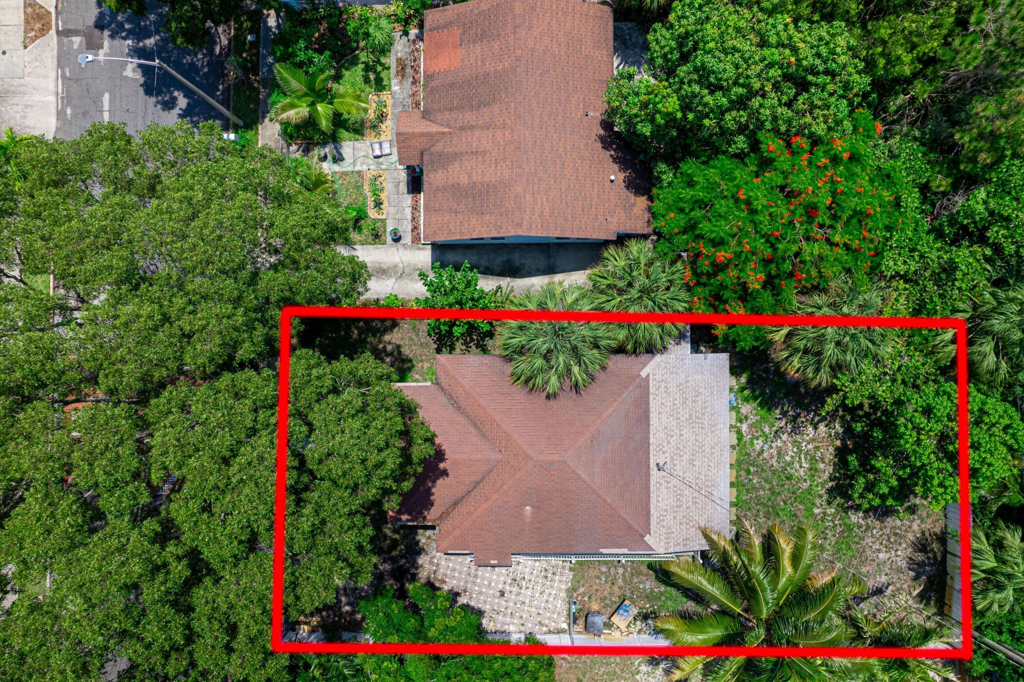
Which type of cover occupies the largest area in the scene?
trees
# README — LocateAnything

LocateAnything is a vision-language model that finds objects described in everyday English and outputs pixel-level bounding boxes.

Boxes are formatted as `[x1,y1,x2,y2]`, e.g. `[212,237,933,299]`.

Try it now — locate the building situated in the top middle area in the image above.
[395,0,653,245]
